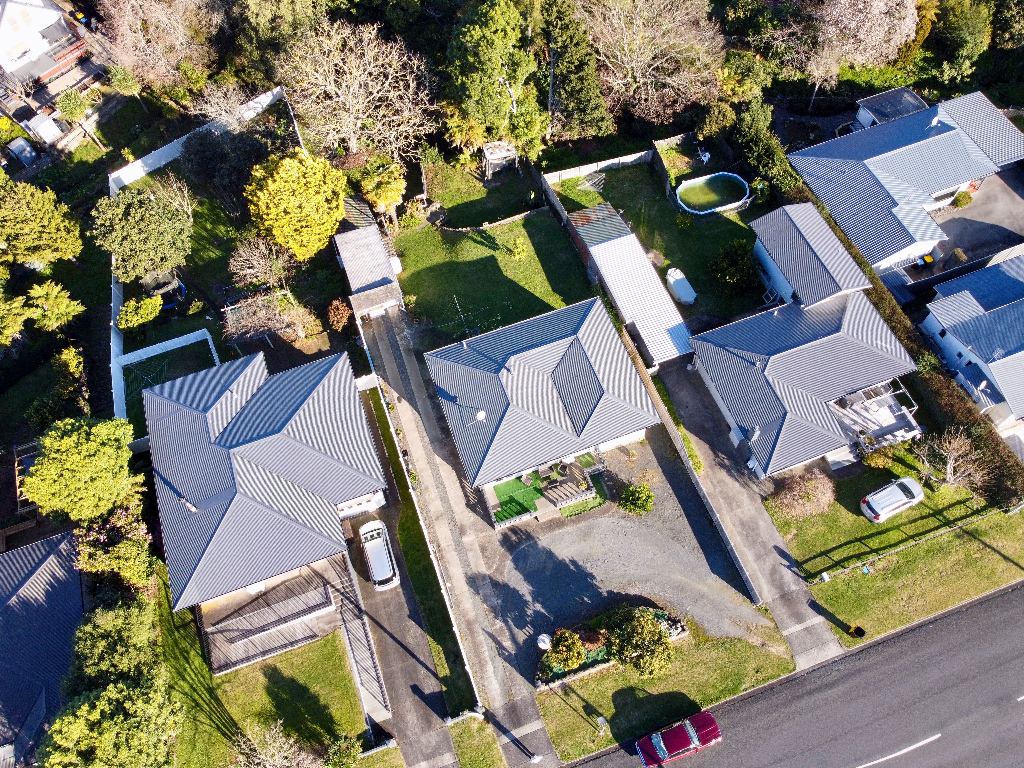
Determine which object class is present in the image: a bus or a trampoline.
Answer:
trampoline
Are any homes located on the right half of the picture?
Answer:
Yes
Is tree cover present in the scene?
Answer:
Yes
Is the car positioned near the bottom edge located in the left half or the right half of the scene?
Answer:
right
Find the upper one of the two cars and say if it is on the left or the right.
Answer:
right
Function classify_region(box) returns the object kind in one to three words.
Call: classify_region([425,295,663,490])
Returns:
house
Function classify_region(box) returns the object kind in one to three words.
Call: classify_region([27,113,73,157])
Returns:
shed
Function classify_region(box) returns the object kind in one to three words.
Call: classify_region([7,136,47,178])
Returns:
shed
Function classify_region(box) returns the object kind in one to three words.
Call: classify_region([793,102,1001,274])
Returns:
house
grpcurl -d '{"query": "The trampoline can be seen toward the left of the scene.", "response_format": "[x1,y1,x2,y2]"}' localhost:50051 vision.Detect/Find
[139,267,191,315]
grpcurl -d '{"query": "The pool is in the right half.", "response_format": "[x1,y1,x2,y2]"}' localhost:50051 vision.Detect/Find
[674,172,749,222]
